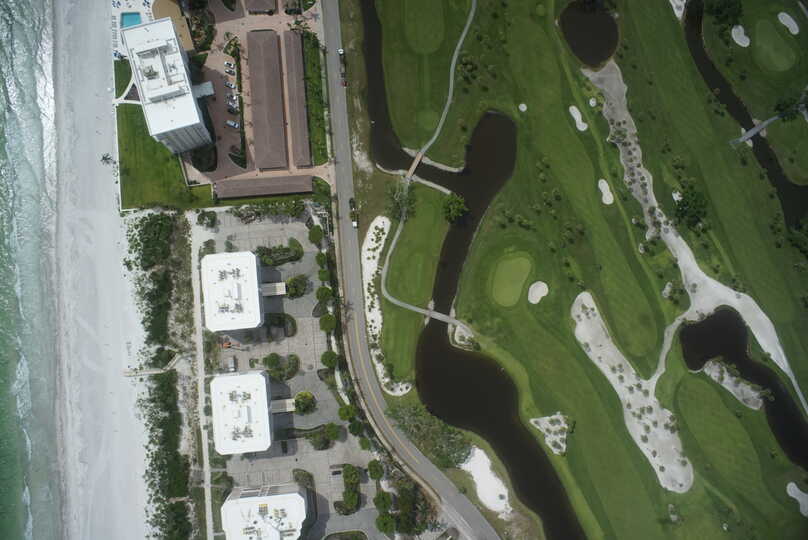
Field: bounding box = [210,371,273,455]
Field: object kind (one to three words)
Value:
building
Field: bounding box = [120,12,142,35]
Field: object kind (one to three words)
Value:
swimming pool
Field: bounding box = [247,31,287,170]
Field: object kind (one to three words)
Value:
building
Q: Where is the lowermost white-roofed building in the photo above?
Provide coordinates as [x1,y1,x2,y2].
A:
[221,484,306,540]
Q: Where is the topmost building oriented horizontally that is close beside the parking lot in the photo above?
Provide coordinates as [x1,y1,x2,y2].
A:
[215,176,312,198]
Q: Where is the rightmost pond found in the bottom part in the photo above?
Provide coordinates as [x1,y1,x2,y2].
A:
[681,306,808,473]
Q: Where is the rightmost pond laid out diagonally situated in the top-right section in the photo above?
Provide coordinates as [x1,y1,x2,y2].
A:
[685,0,808,239]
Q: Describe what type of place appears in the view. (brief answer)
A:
golf course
